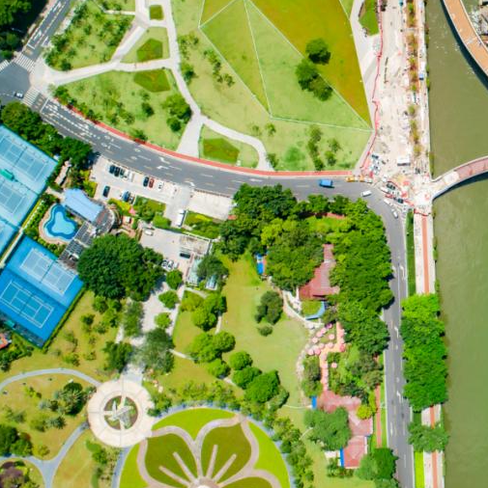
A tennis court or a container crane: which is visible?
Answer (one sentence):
It is a tennis court that can be seen here.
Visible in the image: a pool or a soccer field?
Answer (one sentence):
Looking from above, you can make out a pool.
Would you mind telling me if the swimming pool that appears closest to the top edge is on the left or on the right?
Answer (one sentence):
The swimming pool that appears closest to the top edge is on the left side of the image.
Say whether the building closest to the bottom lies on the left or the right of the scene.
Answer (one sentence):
The building closest to the bottom appears in the right half of the scene.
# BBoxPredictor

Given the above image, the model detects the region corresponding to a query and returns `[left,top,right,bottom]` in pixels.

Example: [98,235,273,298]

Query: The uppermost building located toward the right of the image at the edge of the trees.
[299,263,340,300]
